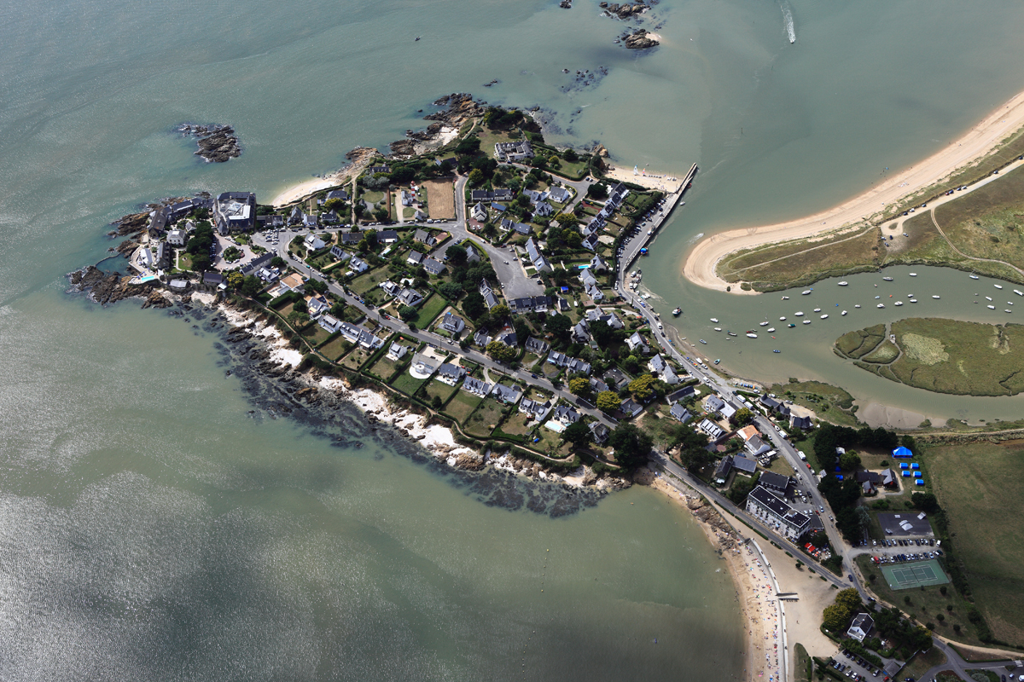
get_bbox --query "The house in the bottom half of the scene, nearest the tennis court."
[844,615,874,644]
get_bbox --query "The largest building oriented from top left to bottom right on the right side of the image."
[747,485,810,539]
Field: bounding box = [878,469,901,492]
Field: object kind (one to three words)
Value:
building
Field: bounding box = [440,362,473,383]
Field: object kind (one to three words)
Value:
house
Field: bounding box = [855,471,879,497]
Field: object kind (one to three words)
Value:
building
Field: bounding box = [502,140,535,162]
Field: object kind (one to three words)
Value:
shed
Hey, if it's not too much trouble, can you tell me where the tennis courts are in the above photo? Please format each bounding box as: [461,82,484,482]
[881,555,950,591]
